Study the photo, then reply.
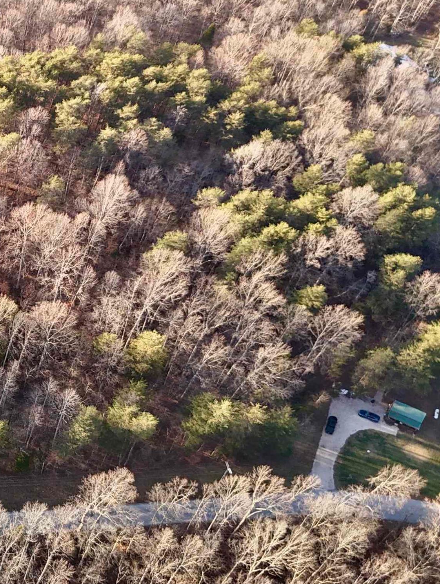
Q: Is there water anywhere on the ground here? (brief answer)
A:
No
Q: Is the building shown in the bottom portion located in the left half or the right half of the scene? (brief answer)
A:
right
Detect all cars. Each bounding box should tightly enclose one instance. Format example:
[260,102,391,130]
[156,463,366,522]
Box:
[324,418,337,434]
[357,412,380,423]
